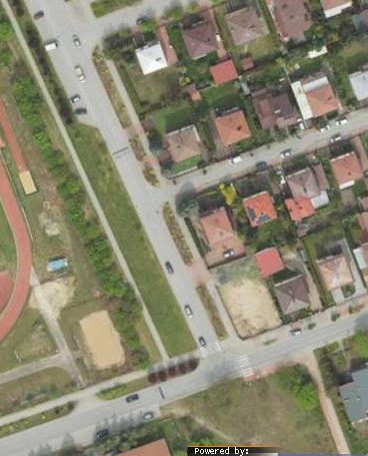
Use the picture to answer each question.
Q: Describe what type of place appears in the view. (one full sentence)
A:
The picture captures a residential area.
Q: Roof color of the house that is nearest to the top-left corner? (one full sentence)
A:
From above, the roof of the house that is nearest to the top-left corner looks white.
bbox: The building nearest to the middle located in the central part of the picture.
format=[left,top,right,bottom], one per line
[200,208,237,245]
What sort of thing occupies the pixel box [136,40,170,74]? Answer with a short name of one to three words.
house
